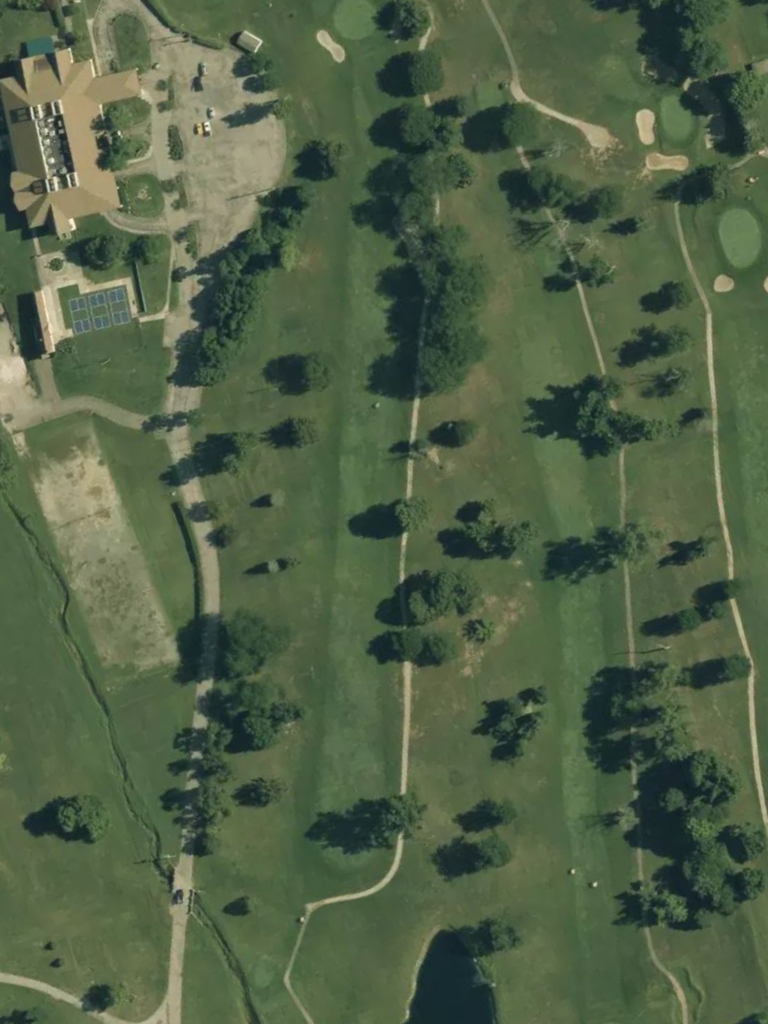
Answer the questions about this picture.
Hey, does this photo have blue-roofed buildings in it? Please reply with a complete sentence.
No, the scene contains no blue-roofed building.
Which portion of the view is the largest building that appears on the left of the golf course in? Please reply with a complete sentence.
You can find the largest building that appears on the left of the golf course in the top left area of the picture.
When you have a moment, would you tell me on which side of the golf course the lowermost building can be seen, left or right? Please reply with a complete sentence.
In the image, the lowermost building sits on the left side of the golf course.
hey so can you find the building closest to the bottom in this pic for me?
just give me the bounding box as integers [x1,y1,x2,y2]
[35,291,56,358]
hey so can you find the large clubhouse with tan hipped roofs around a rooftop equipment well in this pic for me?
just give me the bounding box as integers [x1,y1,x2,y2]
[1,48,140,241]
